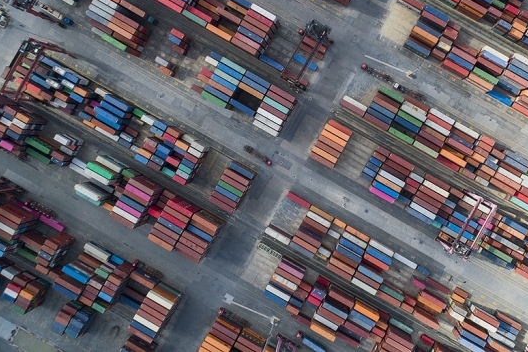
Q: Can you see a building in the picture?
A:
No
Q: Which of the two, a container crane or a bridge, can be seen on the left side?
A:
container crane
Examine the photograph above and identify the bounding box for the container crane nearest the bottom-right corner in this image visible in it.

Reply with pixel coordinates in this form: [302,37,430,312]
[432,188,496,262]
